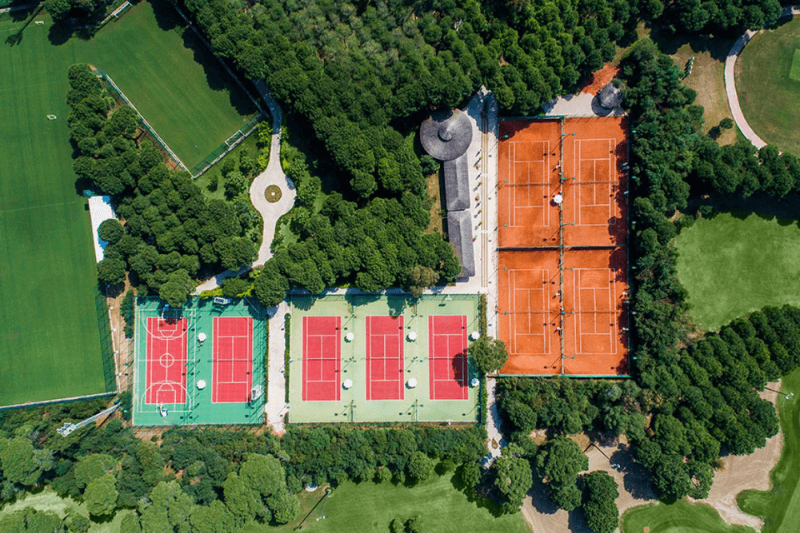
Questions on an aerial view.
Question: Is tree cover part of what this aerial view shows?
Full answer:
Yes, some tree cover is visible.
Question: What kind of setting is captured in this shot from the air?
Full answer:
What you see here is a sports ground.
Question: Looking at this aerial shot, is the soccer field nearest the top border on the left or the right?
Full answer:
You can find the soccer field nearest the top border on the left side of the picture.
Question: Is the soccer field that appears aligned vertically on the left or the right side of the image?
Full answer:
The soccer field that appears aligned vertically appears in the left half of the scene.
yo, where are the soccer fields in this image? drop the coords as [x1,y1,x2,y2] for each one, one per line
[84,0,257,171]
[0,7,118,407]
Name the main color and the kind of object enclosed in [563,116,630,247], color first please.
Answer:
orange tennis court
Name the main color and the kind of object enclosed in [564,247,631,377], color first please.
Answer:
orange tennis court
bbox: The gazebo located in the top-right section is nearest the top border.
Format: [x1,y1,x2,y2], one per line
[595,87,619,109]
